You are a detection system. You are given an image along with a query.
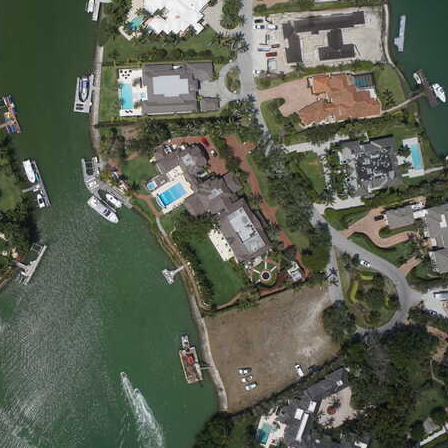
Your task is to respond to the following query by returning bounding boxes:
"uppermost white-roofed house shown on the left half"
[139,0,209,38]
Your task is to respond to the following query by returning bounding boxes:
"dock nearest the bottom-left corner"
[13,243,47,286]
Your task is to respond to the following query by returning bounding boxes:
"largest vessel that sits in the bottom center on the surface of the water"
[179,346,202,382]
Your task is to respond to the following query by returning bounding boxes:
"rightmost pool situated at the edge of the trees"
[410,143,424,171]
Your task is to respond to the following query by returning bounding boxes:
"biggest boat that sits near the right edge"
[430,82,446,103]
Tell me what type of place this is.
residential area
